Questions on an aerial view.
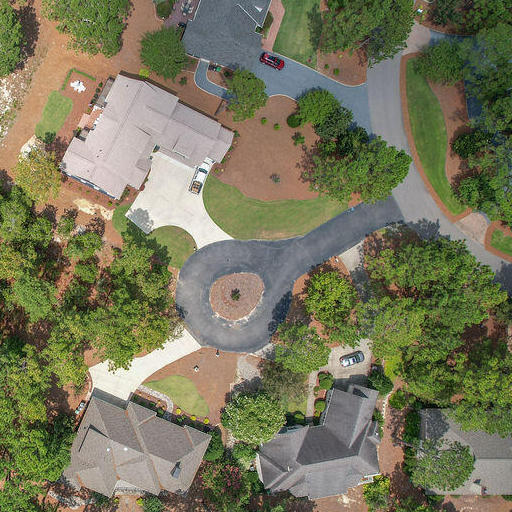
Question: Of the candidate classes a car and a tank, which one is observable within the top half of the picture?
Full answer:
The one visible within the top half of the picture is a car.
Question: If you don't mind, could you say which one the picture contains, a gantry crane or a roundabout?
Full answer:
There is a roundabout in the scene.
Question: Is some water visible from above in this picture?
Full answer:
No, no water is visible.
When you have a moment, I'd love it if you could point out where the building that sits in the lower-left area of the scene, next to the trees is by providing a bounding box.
[65,397,212,497]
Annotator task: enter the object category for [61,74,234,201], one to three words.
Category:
house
